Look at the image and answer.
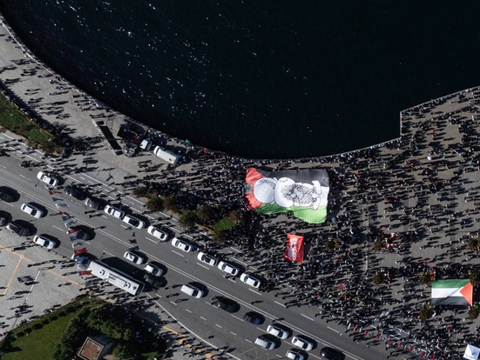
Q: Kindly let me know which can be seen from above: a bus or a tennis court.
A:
bus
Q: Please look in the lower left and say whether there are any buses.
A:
Yes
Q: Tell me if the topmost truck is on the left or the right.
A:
left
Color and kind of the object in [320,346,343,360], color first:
black car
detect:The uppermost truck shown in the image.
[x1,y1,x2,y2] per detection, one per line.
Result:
[113,119,155,155]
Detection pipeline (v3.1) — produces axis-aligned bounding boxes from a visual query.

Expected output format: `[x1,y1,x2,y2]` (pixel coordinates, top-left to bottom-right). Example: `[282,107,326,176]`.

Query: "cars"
[63,185,89,202]
[284,349,306,360]
[0,215,11,228]
[83,195,104,211]
[147,224,172,243]
[140,271,166,291]
[103,203,126,221]
[243,311,265,326]
[37,170,61,188]
[214,297,237,314]
[68,226,94,243]
[196,250,219,268]
[238,272,263,290]
[121,249,147,266]
[121,213,148,232]
[34,235,57,250]
[179,284,205,300]
[320,346,343,360]
[6,220,32,238]
[20,203,45,219]
[253,335,278,352]
[217,260,241,277]
[266,323,289,340]
[143,261,166,278]
[290,335,314,353]
[0,187,16,203]
[170,237,194,253]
